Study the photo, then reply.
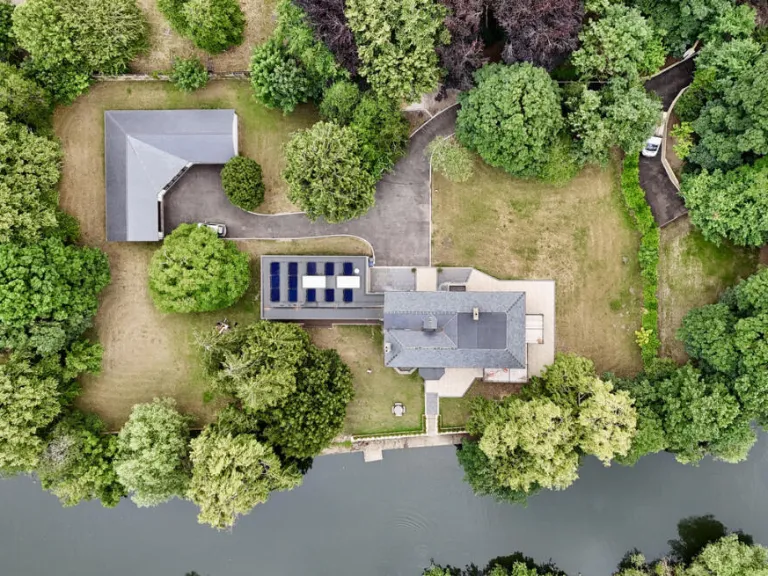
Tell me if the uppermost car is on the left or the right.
right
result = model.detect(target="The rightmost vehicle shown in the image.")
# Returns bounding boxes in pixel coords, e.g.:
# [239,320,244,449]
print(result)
[640,133,663,161]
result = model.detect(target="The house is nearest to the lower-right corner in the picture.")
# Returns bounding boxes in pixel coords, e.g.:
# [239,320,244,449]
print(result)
[384,284,543,382]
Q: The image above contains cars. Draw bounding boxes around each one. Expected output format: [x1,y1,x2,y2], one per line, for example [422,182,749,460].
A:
[198,221,227,236]
[640,133,663,161]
